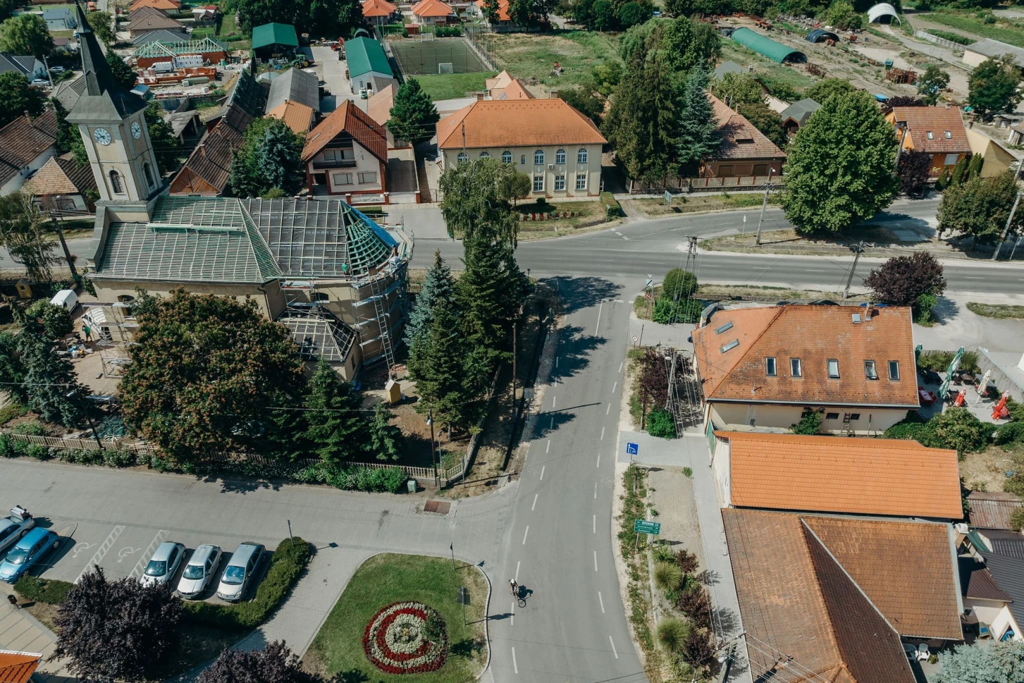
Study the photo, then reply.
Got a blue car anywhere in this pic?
Yes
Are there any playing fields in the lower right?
No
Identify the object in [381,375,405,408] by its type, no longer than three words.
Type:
shed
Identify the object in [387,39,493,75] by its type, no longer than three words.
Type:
sports field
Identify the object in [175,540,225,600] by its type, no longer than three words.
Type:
car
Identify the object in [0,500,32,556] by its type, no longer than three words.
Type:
car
